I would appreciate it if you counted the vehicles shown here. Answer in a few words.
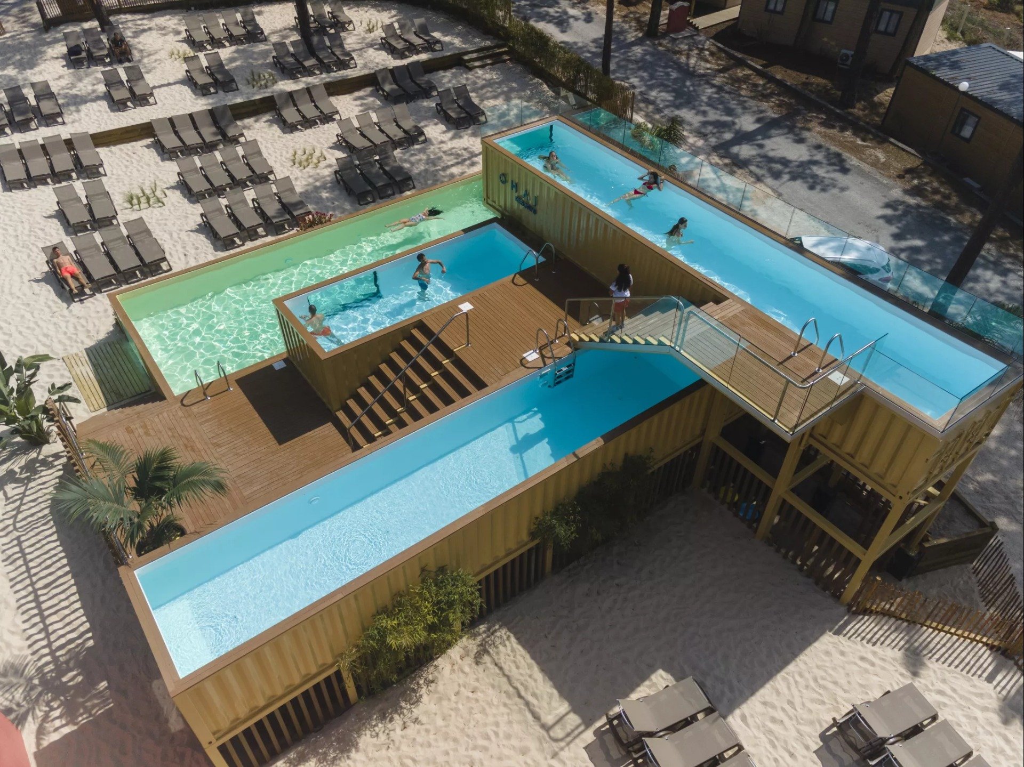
1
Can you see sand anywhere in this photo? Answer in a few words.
Yes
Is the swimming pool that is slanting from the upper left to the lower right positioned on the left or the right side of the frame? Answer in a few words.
right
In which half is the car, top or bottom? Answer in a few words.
top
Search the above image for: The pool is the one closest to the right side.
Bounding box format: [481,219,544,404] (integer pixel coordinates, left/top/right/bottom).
[481,114,1024,502]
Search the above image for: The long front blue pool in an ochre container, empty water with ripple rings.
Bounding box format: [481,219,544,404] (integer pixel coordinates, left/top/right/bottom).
[118,345,714,746]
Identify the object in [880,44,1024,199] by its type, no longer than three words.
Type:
building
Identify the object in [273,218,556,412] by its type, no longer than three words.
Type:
swimming pool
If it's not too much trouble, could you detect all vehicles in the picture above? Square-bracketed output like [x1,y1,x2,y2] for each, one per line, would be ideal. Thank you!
[780,231,889,292]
